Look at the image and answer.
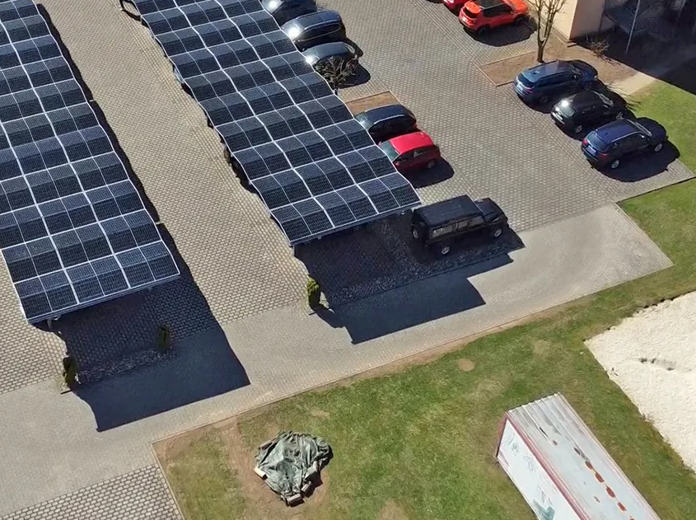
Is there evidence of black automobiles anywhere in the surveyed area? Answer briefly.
Yes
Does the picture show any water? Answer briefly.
No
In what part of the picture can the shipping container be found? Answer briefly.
bottom right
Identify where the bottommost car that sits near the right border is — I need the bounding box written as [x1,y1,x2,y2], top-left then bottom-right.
[584,111,677,167]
